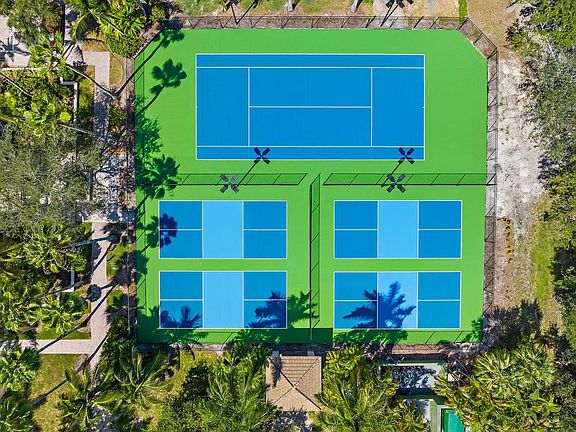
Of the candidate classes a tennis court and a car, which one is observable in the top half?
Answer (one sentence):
There is a tennis court in the top half.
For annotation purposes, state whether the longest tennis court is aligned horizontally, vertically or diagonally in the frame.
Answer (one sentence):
Seen from above, the longest tennis court lies horizontally.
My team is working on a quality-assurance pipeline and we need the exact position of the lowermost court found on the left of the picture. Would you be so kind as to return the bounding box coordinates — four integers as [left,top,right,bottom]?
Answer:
[159,271,287,329]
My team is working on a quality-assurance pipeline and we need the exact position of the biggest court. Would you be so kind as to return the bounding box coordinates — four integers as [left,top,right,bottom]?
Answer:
[196,54,425,160]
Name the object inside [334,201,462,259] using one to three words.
sports court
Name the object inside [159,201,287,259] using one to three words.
sports court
